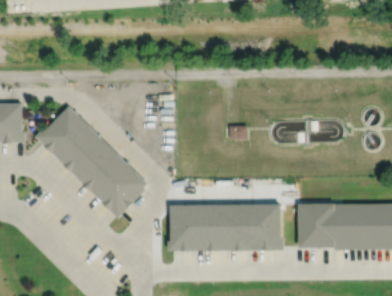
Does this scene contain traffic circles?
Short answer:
No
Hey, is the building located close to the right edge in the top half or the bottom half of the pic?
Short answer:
bottom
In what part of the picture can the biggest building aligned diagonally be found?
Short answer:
left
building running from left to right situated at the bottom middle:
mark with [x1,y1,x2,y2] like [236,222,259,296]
[168,203,285,252]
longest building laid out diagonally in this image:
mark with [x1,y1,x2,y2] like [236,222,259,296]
[36,106,144,216]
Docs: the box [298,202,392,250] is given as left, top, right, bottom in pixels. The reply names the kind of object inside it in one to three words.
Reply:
building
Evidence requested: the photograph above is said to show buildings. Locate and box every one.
[36,106,144,216]
[230,125,248,139]
[0,103,24,142]
[168,203,285,252]
[298,202,392,250]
